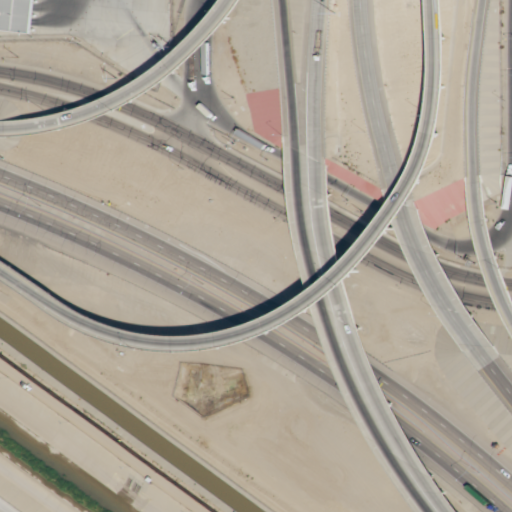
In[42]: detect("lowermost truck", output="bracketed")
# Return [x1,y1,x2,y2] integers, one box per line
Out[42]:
[464,482,501,512]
